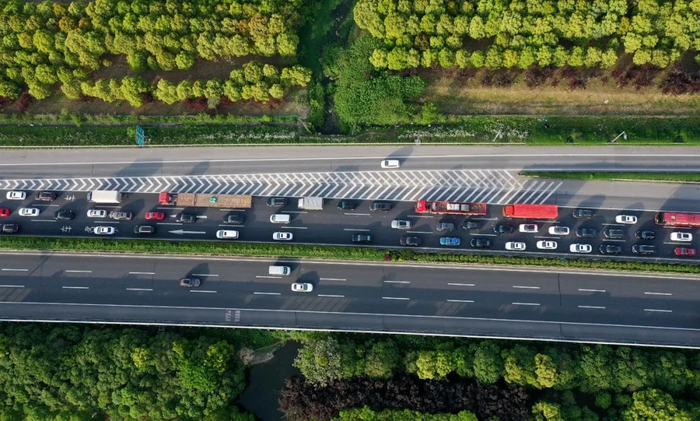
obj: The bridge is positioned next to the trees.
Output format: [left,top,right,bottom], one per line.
[0,251,700,350]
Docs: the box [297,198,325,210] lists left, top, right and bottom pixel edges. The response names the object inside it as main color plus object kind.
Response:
white vehicle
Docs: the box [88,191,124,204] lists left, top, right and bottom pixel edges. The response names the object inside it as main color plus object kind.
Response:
white vehicle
